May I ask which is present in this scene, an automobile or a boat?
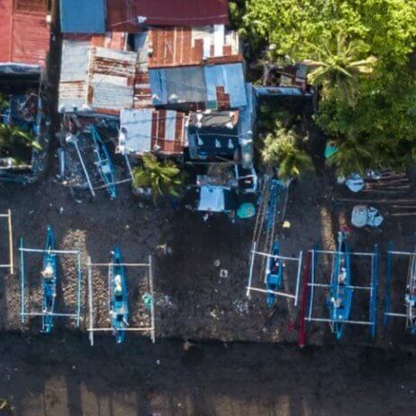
boat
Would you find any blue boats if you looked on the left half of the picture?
Yes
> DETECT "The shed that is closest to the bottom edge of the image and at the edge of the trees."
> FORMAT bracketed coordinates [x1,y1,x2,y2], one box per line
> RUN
[197,185,236,211]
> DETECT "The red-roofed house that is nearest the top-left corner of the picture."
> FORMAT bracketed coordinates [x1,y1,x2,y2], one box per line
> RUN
[0,0,79,69]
